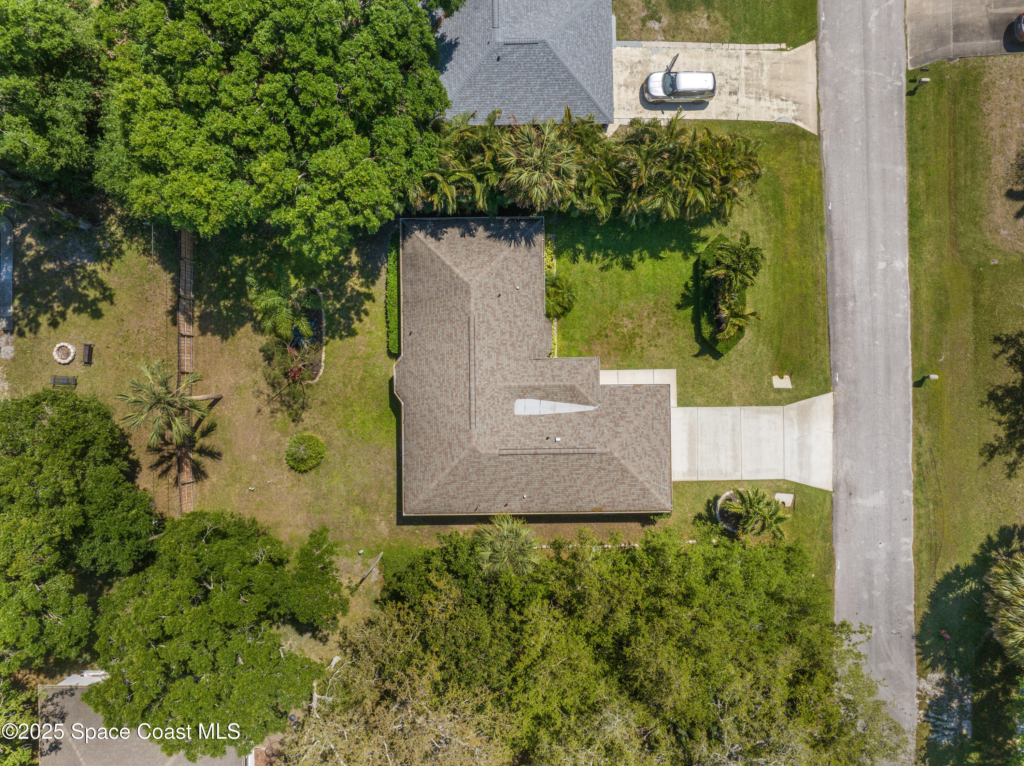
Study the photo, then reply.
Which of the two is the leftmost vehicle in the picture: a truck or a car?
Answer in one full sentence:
Specifically, the leftmost vehicle is a car.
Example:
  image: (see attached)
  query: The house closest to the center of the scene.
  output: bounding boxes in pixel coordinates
[392,214,673,517]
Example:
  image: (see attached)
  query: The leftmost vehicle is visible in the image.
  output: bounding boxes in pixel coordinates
[642,55,717,106]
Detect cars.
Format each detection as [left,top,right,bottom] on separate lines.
[1010,13,1024,48]
[642,55,717,106]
